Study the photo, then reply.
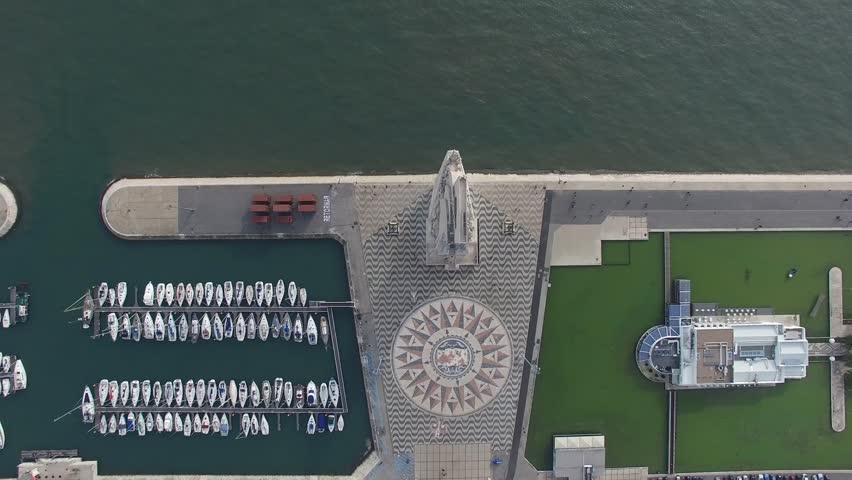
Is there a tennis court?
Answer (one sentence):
No, I can see no tennis court in this picture.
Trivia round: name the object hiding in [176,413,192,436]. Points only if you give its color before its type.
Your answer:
white boat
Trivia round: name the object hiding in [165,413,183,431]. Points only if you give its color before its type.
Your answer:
white boat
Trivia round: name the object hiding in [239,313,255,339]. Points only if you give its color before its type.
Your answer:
gray boat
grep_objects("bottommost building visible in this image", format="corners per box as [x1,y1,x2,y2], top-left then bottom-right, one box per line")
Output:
[551,435,607,480]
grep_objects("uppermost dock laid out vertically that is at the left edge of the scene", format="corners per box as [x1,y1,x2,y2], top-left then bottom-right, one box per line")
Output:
[0,181,22,237]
